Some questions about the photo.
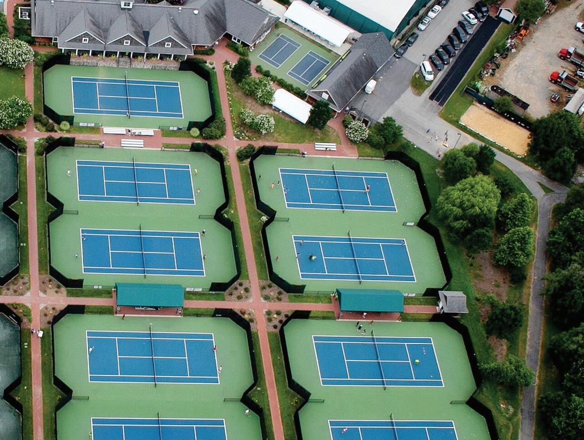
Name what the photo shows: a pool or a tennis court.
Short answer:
tennis court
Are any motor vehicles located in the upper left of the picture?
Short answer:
No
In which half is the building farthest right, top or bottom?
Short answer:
top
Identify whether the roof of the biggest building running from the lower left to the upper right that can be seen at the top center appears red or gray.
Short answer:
gray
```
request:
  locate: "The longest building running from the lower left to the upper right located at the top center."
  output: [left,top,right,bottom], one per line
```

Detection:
[303,34,396,122]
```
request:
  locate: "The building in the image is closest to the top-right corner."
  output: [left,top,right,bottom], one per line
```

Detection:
[497,0,525,25]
